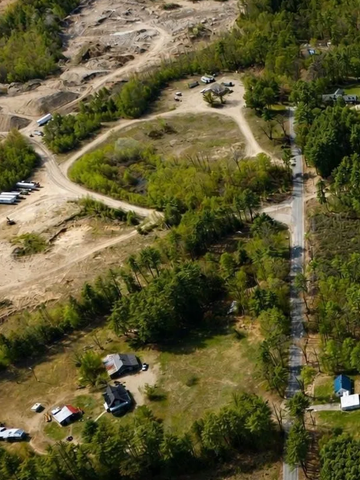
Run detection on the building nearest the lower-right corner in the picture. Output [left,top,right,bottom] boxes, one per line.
[340,390,360,411]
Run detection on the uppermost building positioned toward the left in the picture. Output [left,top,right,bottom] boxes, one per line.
[105,352,141,382]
